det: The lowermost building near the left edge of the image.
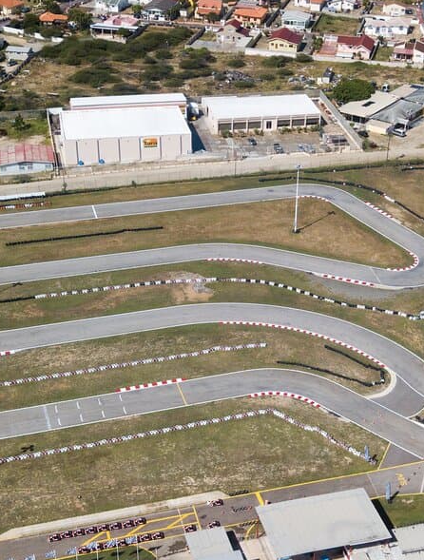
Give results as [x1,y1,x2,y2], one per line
[0,140,55,176]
